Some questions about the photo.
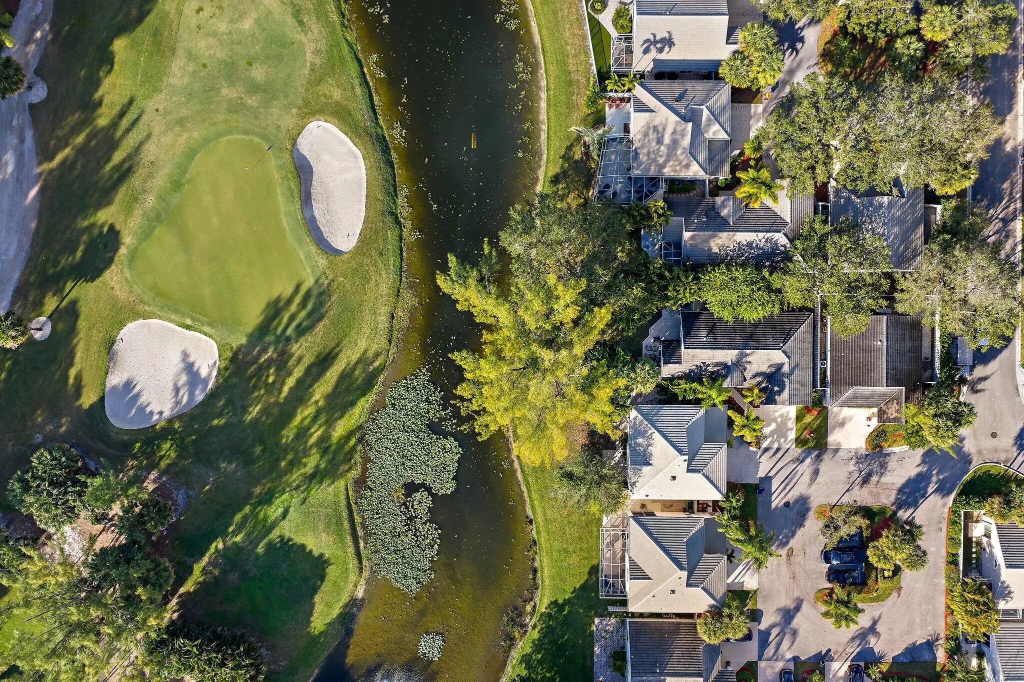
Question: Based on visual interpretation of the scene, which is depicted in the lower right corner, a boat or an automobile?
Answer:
automobile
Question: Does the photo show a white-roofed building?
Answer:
Yes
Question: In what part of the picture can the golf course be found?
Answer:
left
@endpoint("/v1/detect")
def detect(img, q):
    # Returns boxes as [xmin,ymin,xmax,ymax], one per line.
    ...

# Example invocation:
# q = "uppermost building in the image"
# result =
[633,0,742,71]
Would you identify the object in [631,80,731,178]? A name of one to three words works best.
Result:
house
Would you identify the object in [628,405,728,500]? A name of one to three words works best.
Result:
house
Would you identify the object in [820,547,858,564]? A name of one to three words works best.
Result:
car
